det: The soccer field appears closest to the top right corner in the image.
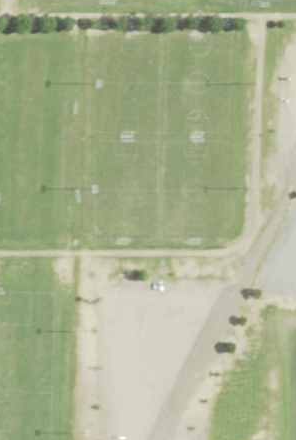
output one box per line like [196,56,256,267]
[164,33,232,134]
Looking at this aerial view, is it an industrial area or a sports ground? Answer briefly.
sports ground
